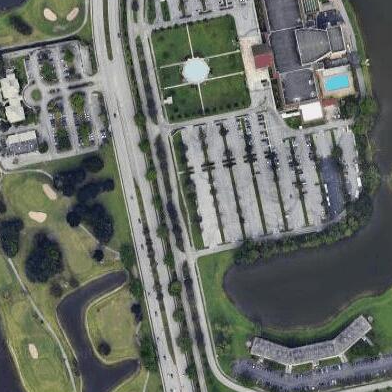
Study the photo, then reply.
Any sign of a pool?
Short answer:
Yes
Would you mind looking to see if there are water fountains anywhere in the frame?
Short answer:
Yes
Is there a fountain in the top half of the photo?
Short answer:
Yes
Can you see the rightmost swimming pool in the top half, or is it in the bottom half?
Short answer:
top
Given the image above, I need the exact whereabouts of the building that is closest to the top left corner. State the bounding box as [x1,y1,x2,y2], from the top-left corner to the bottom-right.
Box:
[0,73,21,101]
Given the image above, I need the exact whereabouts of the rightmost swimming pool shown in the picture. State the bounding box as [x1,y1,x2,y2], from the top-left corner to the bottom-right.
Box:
[318,65,357,100]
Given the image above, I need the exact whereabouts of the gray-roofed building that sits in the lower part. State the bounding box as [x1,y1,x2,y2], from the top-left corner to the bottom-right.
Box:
[251,316,372,370]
